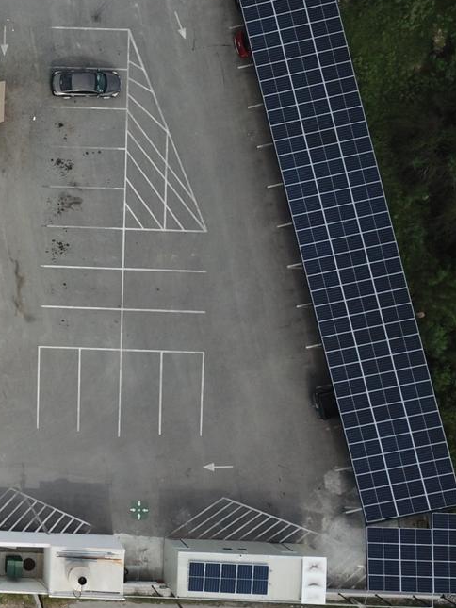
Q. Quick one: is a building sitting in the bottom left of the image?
Yes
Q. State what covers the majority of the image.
paved ground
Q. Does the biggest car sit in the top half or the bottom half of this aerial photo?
top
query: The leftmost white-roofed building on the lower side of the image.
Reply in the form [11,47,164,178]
[42,535,125,601]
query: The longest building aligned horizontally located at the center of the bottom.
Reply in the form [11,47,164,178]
[165,540,304,606]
